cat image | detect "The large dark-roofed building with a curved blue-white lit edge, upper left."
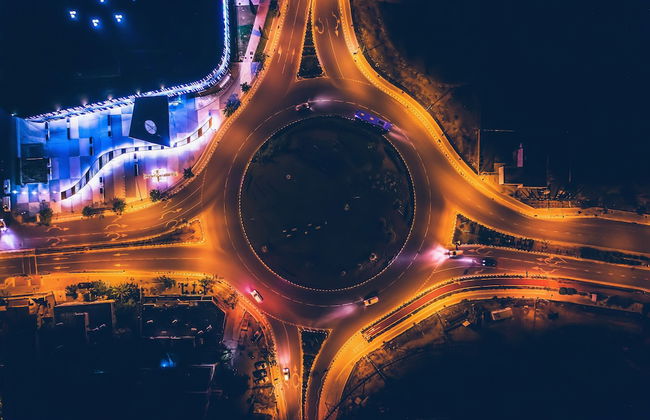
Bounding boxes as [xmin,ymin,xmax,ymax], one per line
[0,0,235,126]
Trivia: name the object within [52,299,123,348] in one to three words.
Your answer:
building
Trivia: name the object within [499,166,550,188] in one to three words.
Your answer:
building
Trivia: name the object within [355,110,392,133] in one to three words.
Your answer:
bus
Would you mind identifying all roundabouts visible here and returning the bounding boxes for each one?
[202,78,452,328]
